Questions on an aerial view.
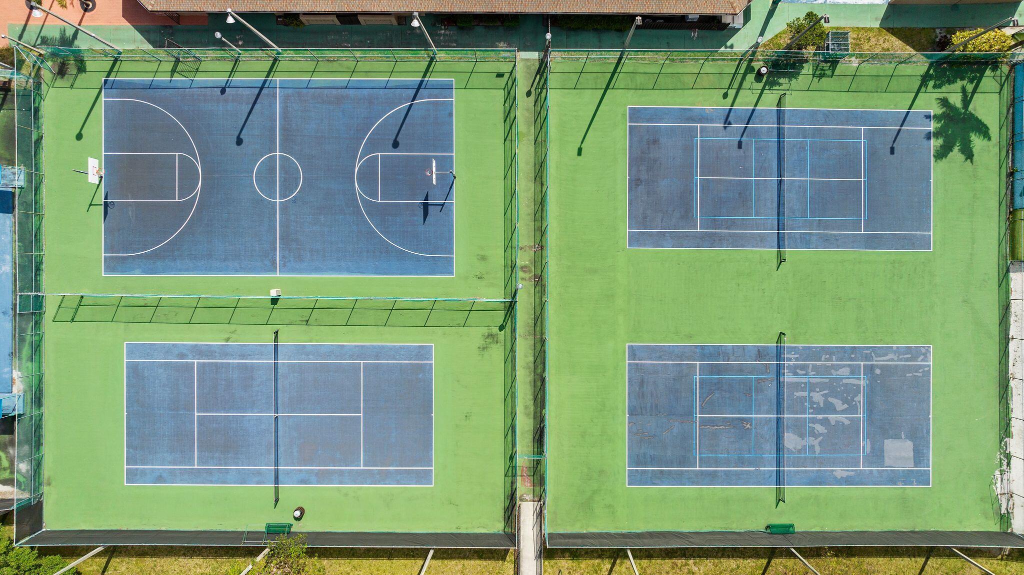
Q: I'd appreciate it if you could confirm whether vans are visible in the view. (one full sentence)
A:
No, the photo shows no van.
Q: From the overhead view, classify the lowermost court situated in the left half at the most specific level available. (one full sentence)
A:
The lowermost court situated in the left half in the image is a tennis court.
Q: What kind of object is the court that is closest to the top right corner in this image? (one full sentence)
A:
What you see as the court that is closest to the top right corner is a tennis court.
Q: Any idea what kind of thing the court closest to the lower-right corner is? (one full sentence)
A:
What you see as the court closest to the lower-right corner is a tennis court.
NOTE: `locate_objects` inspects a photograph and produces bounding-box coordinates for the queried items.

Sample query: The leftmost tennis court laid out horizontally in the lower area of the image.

[124,342,434,486]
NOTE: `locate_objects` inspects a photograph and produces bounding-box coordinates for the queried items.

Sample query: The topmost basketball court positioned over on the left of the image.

[102,78,455,276]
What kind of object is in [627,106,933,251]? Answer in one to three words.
tennis court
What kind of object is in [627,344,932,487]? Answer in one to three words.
tennis court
